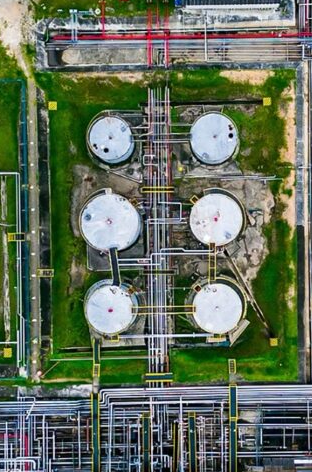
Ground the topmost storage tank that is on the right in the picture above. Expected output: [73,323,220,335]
[190,114,241,168]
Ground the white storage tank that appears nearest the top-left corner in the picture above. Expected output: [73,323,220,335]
[84,108,139,170]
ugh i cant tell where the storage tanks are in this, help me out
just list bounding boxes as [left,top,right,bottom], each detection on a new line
[84,108,139,170]
[189,186,250,250]
[76,183,145,257]
[191,277,248,333]
[190,114,241,168]
[84,281,142,336]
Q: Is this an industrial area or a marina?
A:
industrial area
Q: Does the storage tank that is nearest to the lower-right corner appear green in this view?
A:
No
